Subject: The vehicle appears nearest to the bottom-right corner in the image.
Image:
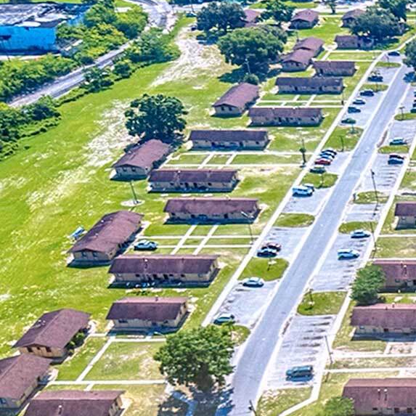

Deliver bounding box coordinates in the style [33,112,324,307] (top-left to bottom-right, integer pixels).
[286,366,313,379]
